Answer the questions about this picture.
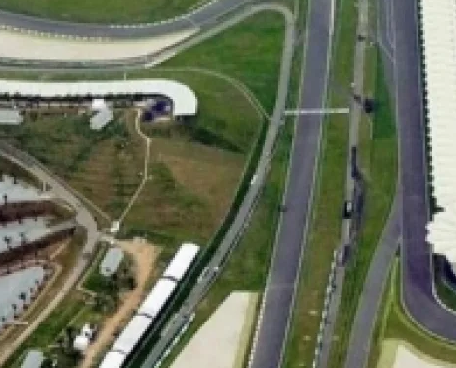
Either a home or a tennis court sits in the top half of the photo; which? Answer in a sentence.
Visible in the top half of the photo is a home.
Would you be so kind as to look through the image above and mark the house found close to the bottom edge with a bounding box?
[20,348,43,368]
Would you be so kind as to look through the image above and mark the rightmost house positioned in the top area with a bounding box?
[90,105,112,131]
